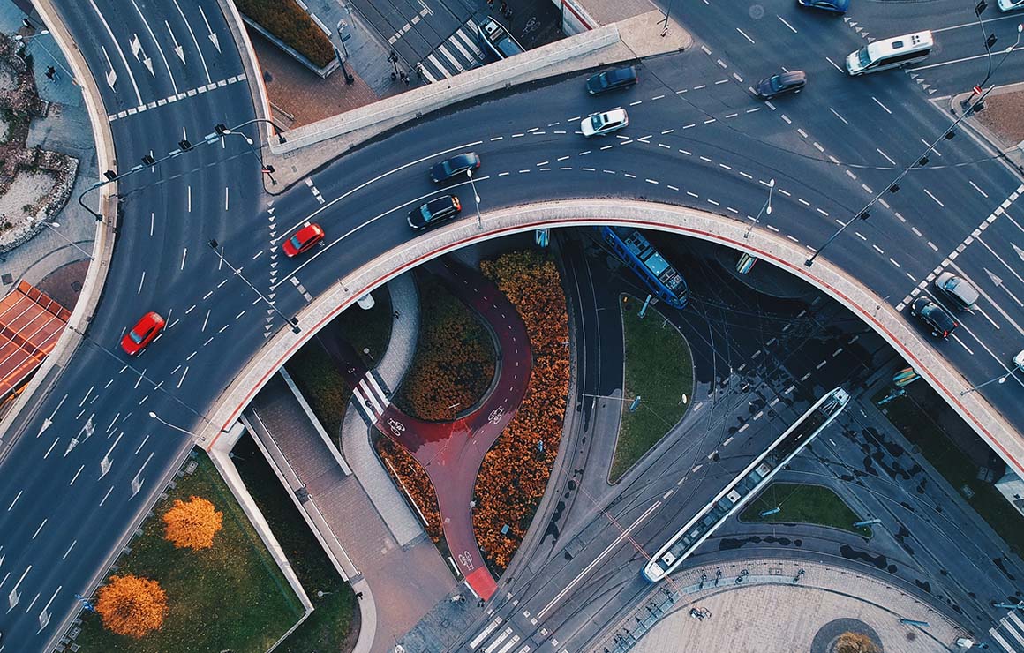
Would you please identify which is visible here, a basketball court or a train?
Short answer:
train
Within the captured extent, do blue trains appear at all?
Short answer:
Yes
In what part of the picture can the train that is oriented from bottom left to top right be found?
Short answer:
bottom right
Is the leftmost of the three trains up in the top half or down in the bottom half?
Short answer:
top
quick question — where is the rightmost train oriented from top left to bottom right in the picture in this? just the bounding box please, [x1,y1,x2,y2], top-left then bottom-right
[595,226,690,317]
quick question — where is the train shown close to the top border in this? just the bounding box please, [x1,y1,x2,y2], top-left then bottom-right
[477,16,525,63]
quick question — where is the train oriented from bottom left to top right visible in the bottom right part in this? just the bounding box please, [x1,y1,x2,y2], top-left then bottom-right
[641,389,851,579]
